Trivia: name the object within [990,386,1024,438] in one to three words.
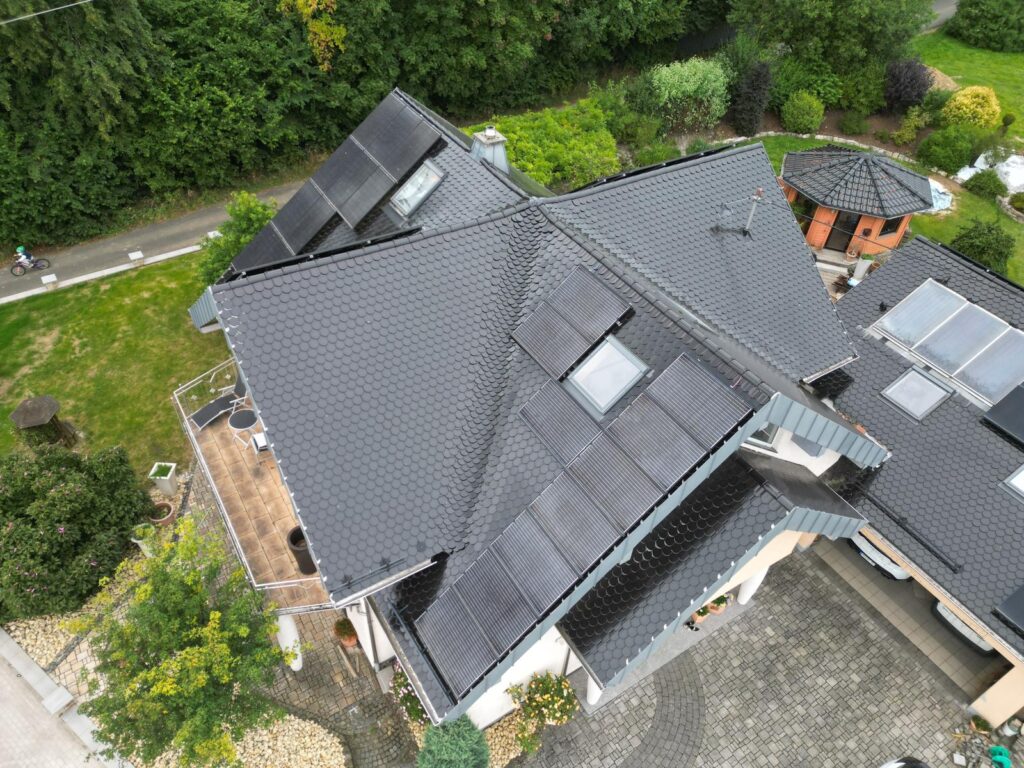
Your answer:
solar panel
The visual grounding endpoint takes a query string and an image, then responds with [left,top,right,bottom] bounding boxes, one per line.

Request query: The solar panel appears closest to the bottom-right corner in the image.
[997,580,1024,627]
